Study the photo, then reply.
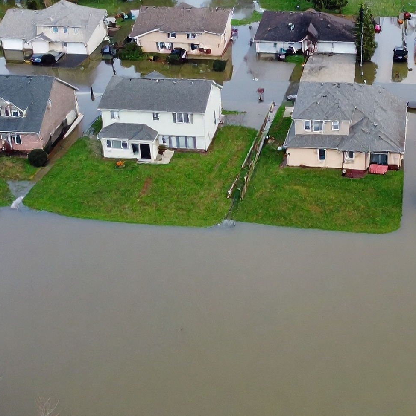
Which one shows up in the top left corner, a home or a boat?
home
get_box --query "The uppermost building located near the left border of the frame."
[0,3,105,63]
